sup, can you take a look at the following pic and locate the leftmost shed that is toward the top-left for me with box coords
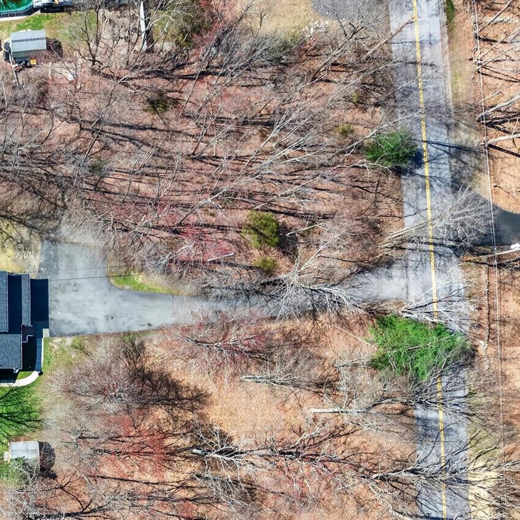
[11,29,47,65]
